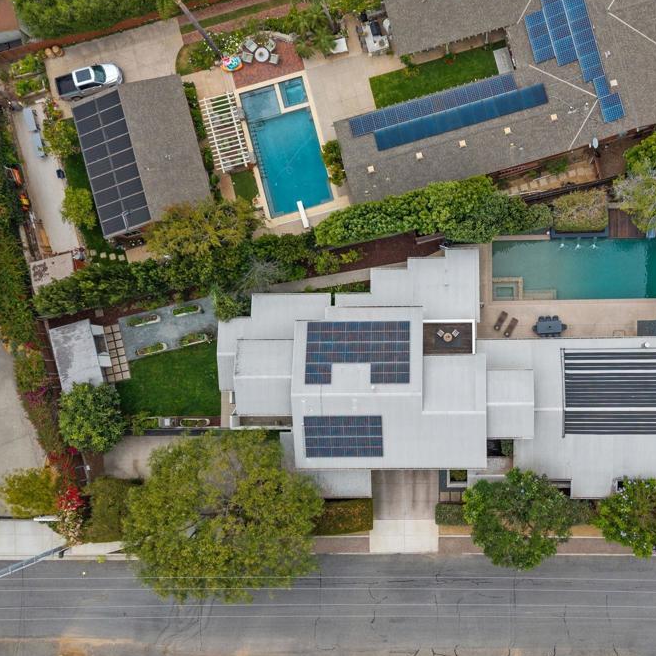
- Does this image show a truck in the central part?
No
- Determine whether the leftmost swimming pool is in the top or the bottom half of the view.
top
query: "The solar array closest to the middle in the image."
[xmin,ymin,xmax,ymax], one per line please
[305,322,410,384]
